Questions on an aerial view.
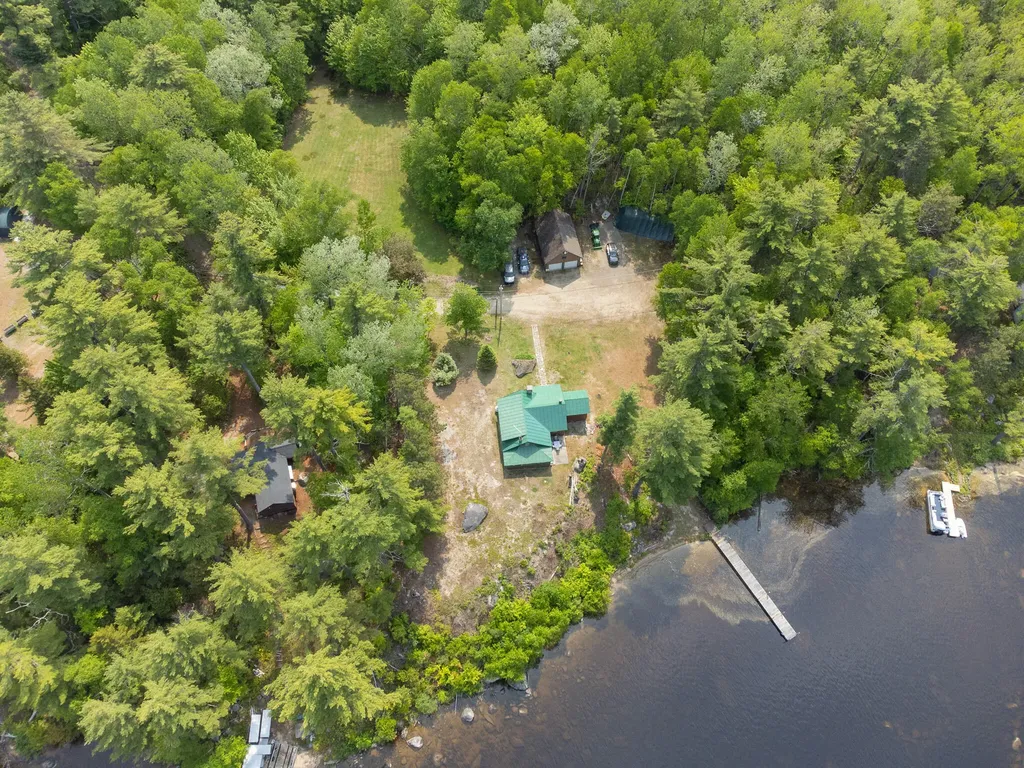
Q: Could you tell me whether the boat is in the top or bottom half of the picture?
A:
bottom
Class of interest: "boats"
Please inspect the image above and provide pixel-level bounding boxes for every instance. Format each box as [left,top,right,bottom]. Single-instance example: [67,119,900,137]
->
[926,488,949,537]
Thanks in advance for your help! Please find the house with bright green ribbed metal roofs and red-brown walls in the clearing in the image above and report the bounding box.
[497,384,591,469]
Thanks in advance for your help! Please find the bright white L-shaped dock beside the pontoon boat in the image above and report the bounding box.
[942,482,960,538]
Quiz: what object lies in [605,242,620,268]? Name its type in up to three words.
vehicle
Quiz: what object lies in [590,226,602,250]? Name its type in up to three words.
vehicle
